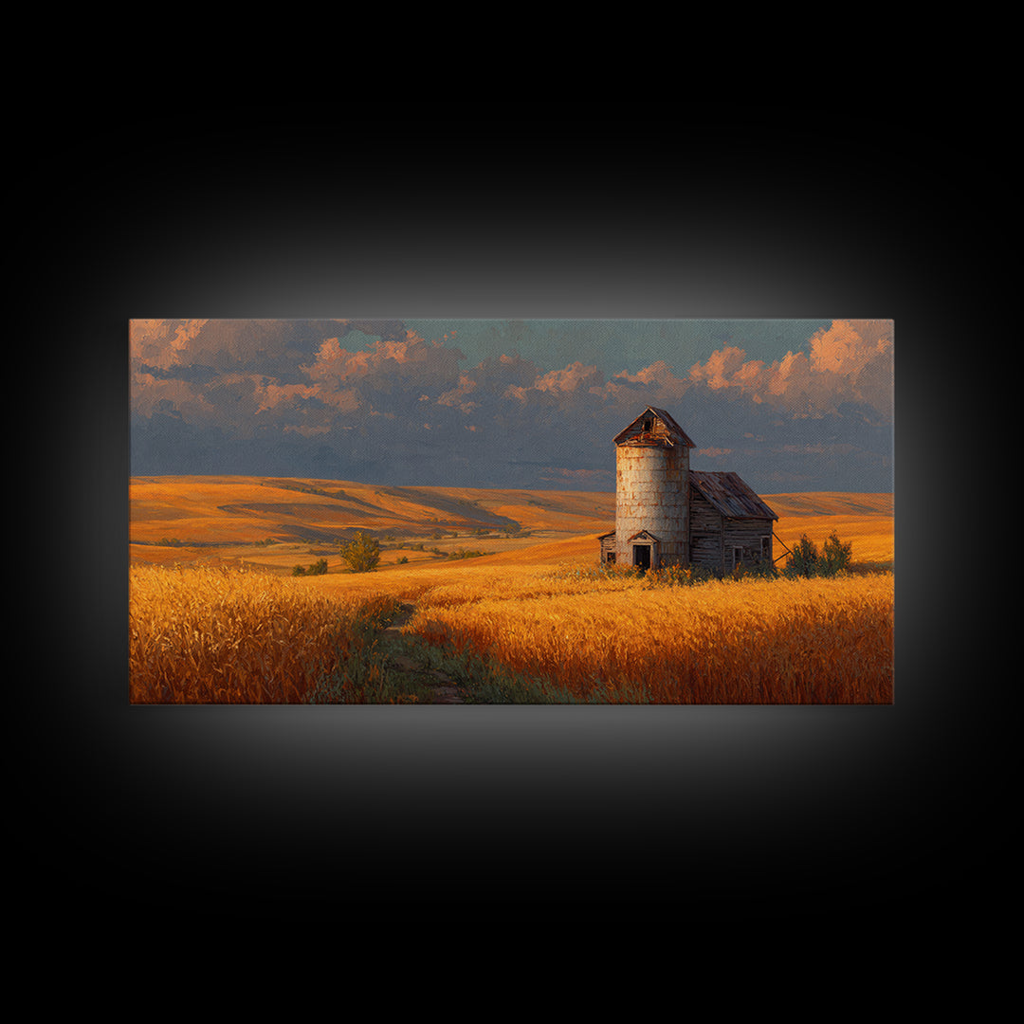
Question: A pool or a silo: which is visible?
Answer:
silo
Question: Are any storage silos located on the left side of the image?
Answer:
No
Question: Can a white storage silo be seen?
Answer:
No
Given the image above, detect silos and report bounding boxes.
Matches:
[612,405,695,568]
